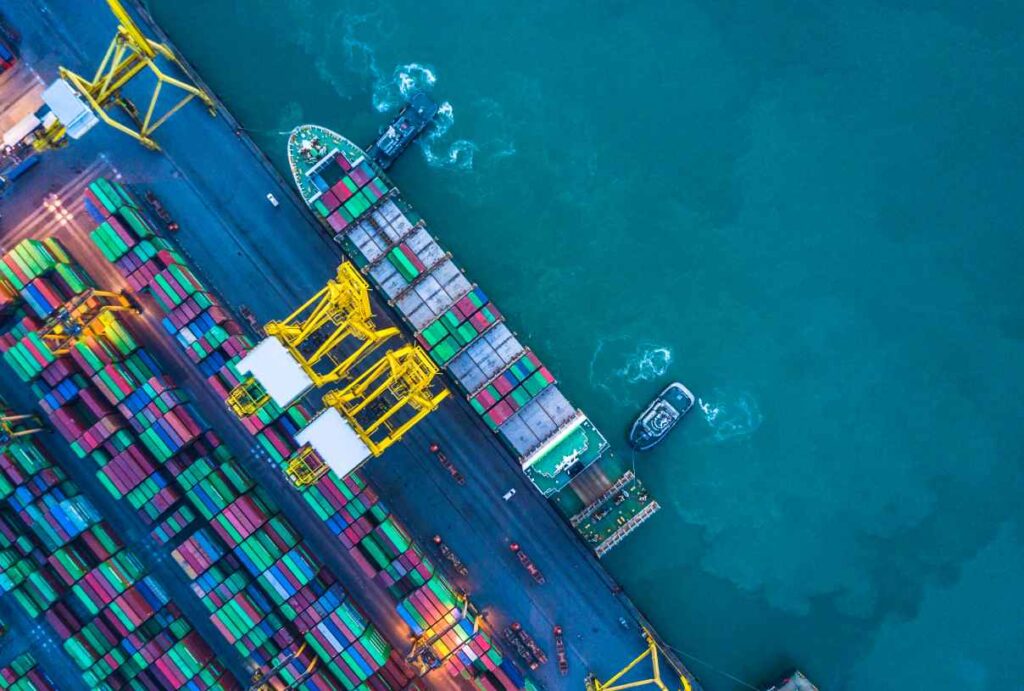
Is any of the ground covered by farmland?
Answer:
No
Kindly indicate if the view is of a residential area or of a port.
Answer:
port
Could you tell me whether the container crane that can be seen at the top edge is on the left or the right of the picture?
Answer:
left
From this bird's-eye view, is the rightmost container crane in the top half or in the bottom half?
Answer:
bottom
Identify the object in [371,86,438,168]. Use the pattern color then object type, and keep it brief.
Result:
blue boat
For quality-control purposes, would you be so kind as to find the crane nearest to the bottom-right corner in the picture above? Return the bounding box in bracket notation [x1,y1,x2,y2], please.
[582,627,689,691]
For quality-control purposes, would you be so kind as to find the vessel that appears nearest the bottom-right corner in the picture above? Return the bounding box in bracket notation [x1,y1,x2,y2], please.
[764,664,820,691]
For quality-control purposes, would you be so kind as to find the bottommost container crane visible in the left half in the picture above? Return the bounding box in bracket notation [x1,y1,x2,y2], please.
[245,639,320,691]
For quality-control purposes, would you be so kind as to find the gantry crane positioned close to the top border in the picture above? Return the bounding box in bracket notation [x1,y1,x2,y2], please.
[4,0,219,163]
